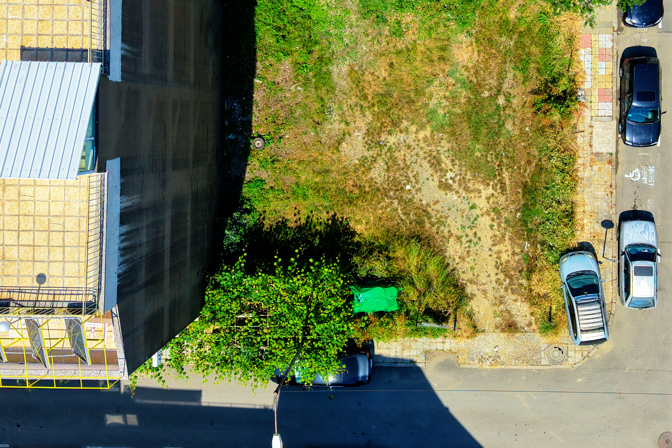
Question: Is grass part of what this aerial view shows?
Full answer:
Yes, there is grass in the image.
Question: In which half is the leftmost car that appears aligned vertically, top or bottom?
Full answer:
You can find the leftmost car that appears aligned vertically in the bottom half.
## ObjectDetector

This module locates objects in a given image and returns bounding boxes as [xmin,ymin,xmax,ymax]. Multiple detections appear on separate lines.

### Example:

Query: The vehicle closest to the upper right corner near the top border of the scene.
[619,0,660,34]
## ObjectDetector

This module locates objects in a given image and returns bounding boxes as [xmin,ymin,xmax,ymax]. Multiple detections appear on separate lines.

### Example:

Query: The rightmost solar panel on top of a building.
[65,316,93,366]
